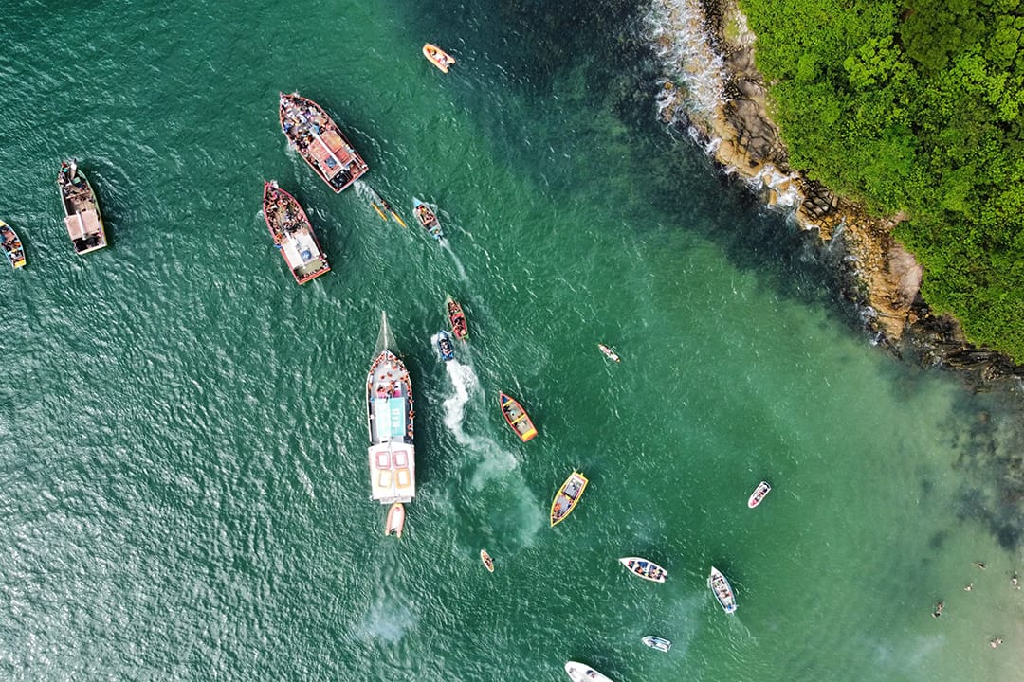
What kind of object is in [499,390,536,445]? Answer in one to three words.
boat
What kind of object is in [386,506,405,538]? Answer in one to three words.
boat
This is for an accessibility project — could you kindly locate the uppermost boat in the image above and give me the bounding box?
[423,42,456,76]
